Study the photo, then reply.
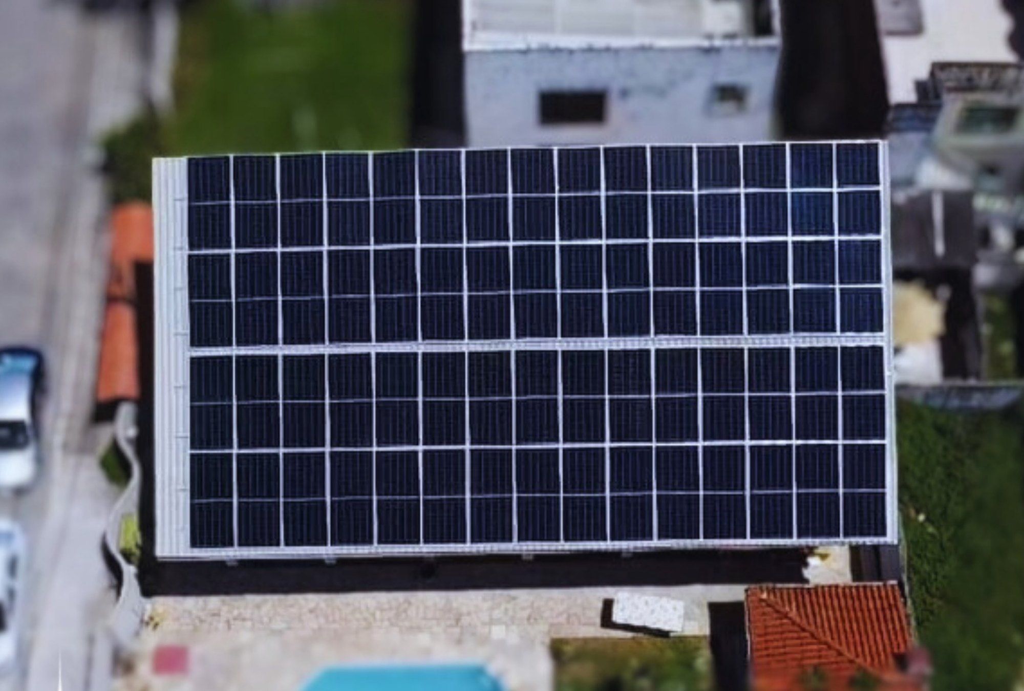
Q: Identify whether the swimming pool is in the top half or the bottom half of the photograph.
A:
bottom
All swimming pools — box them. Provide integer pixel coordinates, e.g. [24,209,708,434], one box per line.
[294,659,512,691]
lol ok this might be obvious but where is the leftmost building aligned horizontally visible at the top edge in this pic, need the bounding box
[463,0,781,144]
